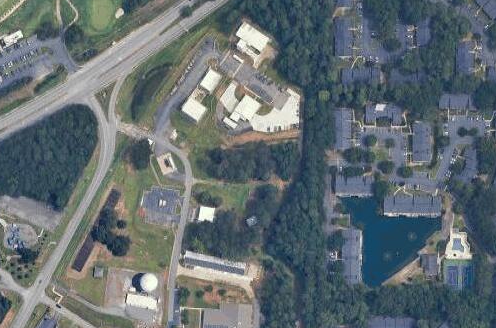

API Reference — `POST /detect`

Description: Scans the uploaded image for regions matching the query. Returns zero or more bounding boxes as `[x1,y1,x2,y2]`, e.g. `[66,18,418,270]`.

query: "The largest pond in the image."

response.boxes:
[337,195,443,287]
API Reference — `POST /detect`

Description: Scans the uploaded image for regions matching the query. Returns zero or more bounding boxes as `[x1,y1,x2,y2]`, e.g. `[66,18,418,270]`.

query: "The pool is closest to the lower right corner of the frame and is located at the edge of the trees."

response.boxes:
[445,229,472,259]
